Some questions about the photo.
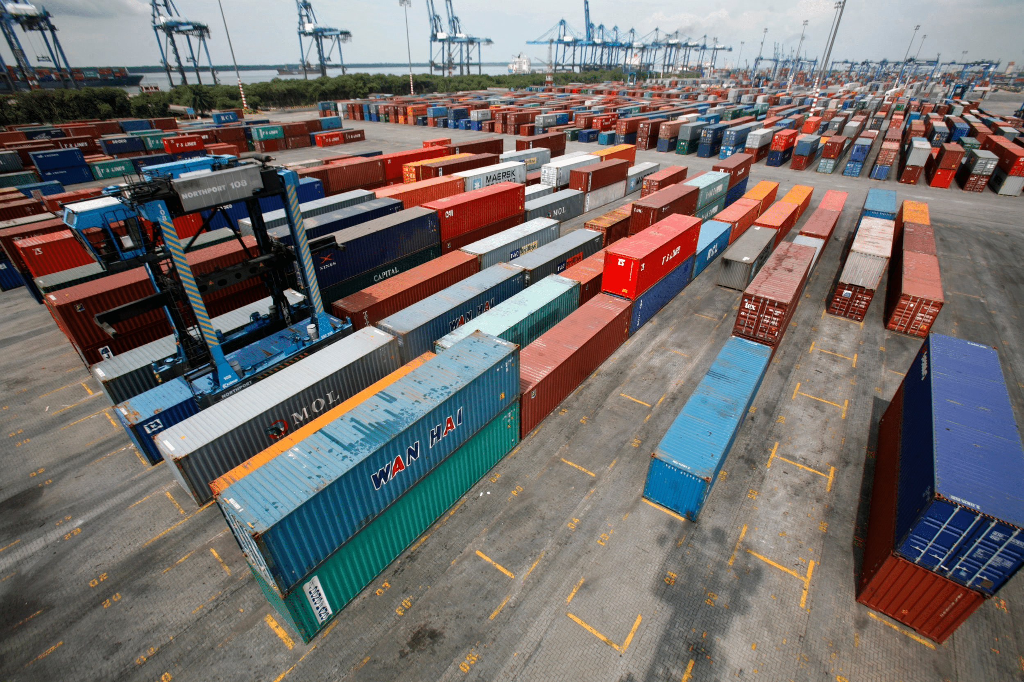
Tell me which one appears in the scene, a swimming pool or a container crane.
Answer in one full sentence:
This aerial view contains a container crane.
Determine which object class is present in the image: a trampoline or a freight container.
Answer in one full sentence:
The one in the frame is a freight container.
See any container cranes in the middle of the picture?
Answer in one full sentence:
No, in the middle of the picture there is no container crane.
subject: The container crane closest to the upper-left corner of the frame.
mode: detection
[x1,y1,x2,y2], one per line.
[2,0,92,91]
